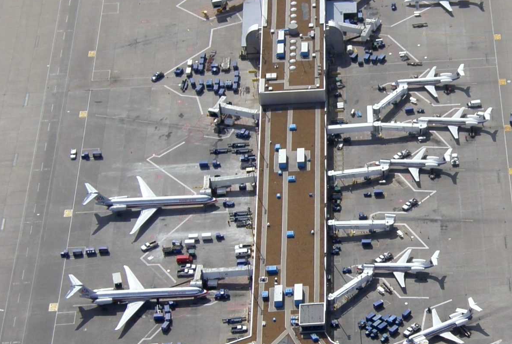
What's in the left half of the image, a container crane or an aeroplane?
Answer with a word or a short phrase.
aeroplane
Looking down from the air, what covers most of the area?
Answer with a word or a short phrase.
paved ground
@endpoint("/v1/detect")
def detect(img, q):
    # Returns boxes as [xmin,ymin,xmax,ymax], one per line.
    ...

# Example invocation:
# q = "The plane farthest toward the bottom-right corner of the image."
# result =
[402,296,485,344]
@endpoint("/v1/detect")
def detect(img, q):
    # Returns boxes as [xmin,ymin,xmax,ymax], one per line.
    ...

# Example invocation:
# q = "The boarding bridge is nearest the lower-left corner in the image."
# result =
[192,265,253,292]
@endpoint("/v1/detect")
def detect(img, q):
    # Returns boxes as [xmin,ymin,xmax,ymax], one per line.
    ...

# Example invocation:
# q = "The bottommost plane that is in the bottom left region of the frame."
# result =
[62,266,208,330]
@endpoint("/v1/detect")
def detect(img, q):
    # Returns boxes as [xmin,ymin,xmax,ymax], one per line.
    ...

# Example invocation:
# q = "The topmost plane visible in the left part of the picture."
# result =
[78,177,218,234]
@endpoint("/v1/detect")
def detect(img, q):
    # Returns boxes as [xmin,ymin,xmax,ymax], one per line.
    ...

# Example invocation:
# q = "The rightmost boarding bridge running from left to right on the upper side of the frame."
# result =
[372,117,428,144]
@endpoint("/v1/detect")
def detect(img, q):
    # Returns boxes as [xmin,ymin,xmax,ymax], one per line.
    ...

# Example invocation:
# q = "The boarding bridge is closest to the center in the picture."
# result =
[201,174,256,198]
